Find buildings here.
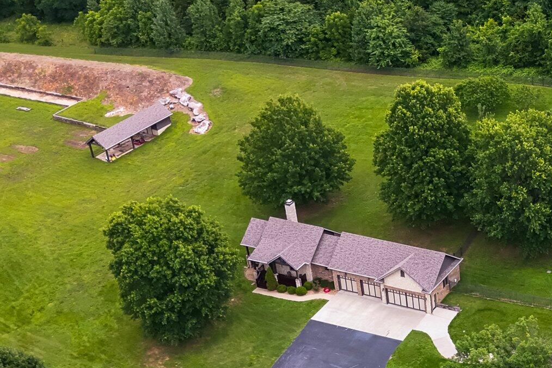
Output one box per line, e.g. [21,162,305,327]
[240,194,464,314]
[81,100,172,162]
